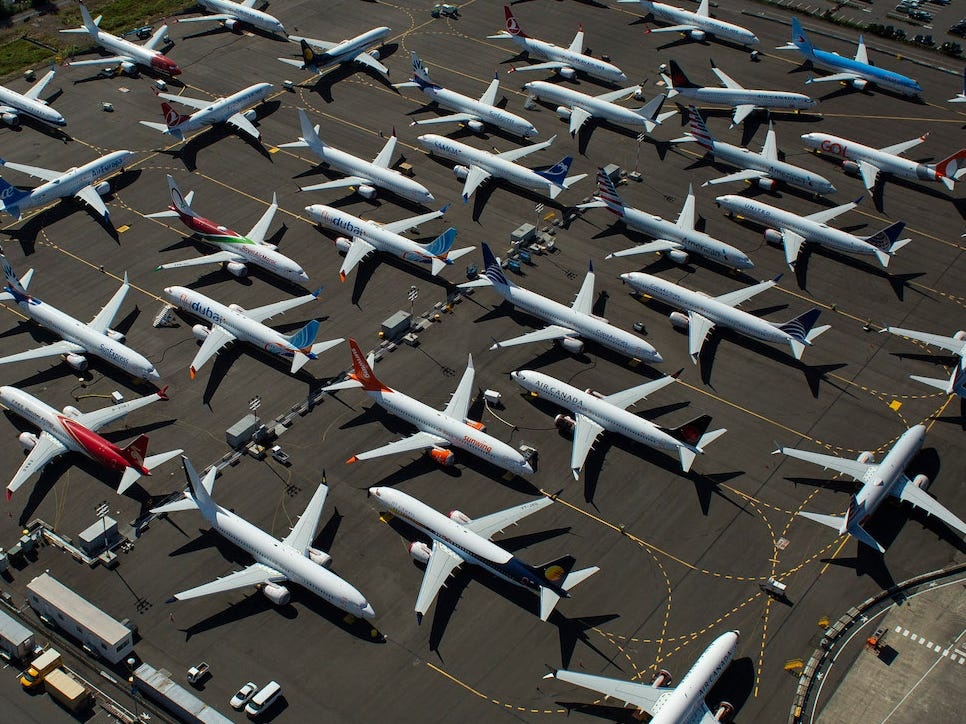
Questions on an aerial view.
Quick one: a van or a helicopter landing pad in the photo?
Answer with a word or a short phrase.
van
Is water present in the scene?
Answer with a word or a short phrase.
No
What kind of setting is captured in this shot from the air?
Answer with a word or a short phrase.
airport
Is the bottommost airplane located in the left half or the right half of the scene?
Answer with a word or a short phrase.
right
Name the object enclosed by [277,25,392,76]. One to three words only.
airplane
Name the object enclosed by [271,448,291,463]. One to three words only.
vehicle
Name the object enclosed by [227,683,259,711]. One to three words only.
car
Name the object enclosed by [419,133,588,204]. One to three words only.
airplane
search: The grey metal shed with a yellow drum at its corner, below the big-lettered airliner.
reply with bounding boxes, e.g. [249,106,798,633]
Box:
[381,310,411,339]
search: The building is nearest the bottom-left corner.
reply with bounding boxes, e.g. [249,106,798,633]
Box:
[0,604,36,658]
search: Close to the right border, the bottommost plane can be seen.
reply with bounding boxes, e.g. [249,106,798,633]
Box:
[771,424,966,554]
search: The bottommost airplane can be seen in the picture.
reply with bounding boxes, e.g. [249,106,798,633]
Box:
[542,631,742,724]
